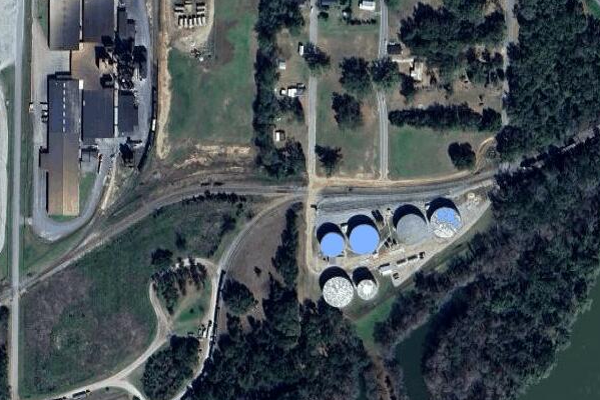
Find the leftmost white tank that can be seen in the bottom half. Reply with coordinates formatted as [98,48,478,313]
[322,276,354,308]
